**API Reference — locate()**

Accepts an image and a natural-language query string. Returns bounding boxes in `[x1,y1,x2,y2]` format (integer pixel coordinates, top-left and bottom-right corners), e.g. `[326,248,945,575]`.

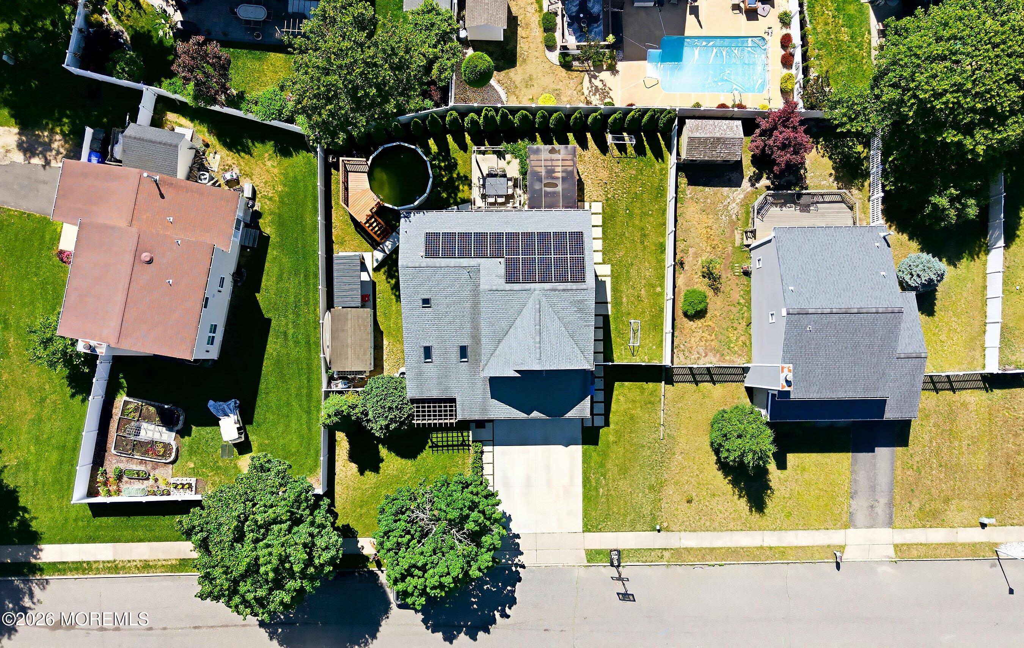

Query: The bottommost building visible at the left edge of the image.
[49,158,249,361]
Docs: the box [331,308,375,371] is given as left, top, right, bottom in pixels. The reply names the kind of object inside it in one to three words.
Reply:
shed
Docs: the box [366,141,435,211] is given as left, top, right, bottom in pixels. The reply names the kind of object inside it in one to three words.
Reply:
swimming pool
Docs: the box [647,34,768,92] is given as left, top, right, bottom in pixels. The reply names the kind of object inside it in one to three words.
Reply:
swimming pool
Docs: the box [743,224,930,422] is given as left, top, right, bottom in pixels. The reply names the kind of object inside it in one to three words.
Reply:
house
